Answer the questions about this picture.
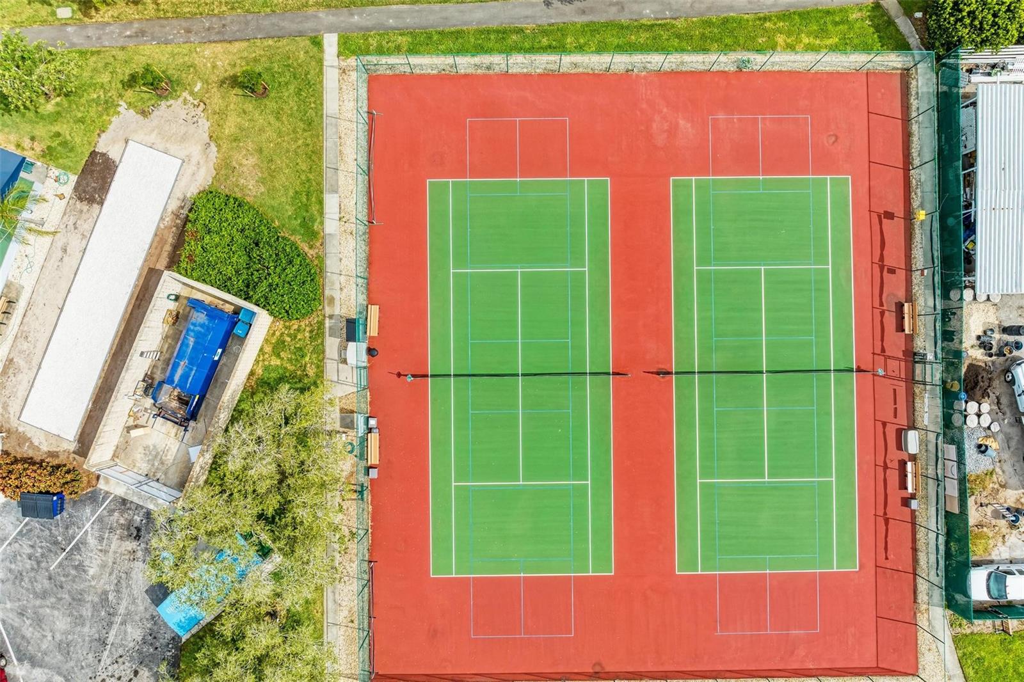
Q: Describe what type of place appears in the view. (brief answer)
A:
sports ground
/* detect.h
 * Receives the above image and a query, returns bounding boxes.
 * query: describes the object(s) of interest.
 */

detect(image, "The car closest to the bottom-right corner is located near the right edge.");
[973,562,1024,606]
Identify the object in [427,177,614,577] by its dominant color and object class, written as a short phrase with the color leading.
green tennis court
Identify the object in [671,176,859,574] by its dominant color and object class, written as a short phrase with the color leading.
green tennis court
